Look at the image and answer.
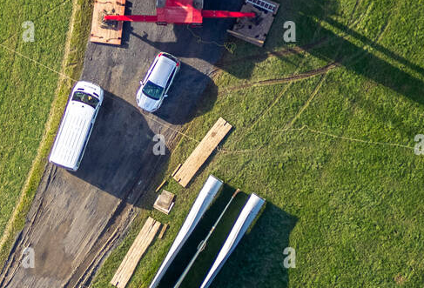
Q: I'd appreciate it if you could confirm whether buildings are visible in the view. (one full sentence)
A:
No, there appears to be no building in this shot.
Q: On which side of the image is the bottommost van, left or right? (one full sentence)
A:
You can find the bottommost van on the left side of the picture.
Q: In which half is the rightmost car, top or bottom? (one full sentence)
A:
It is in the top half that the rightmost car appears.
